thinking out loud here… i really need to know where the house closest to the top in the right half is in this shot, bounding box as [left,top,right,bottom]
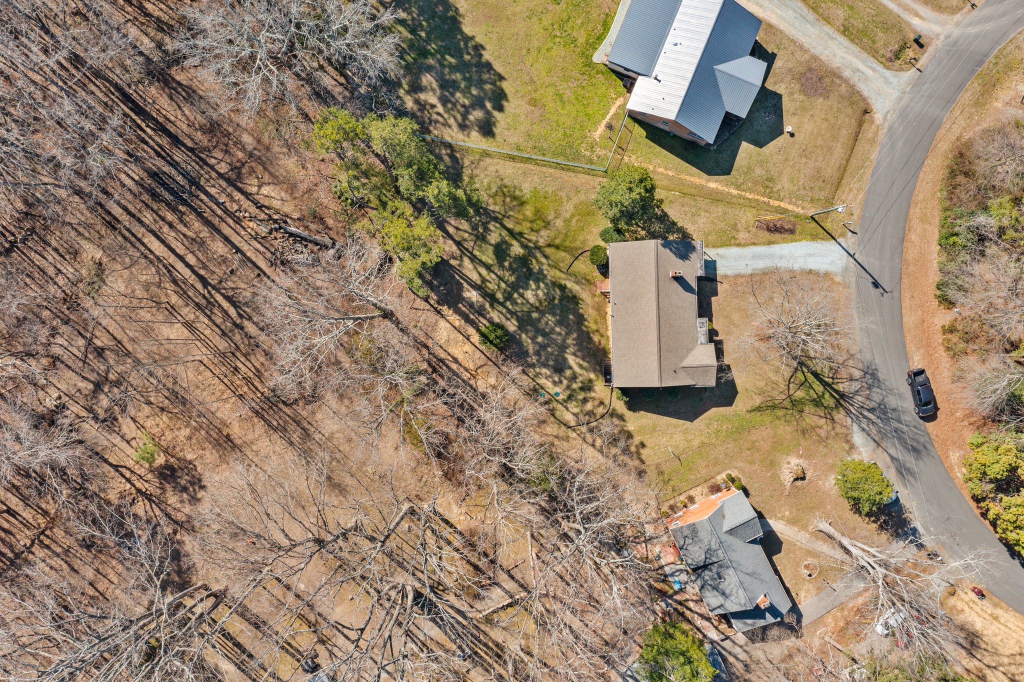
[608,0,767,155]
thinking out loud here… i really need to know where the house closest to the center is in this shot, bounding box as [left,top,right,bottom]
[608,240,717,388]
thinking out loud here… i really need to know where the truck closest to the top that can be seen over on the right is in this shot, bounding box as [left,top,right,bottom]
[907,367,938,422]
